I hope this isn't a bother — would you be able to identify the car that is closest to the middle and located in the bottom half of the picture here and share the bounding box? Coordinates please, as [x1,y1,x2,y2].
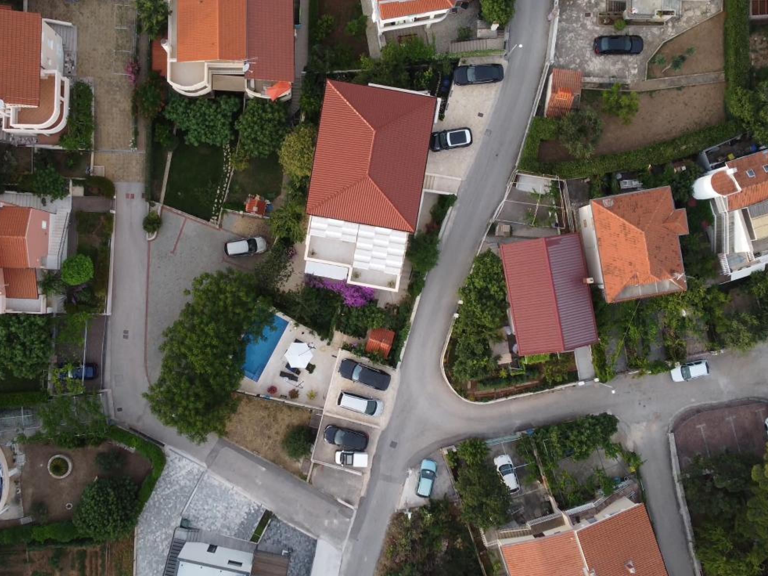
[336,356,393,391]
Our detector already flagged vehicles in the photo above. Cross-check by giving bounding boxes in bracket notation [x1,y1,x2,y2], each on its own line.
[428,126,477,154]
[322,423,371,450]
[415,457,438,499]
[335,450,368,469]
[335,389,385,418]
[590,31,644,57]
[495,450,520,496]
[222,233,271,258]
[336,356,393,391]
[450,62,504,88]
[666,357,711,383]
